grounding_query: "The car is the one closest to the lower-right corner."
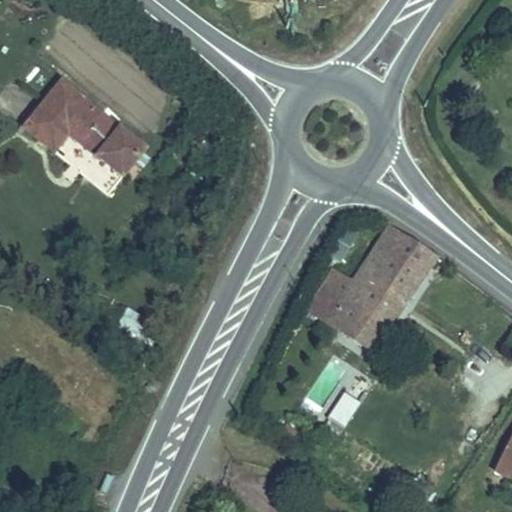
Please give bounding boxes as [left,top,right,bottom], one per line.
[466,426,478,443]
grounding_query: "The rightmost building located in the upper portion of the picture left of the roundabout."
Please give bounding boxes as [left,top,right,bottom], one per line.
[20,75,151,198]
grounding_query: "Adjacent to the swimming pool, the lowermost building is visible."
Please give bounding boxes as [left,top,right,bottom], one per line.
[329,392,361,428]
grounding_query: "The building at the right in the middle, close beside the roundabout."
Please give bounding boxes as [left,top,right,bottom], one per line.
[310,225,438,350]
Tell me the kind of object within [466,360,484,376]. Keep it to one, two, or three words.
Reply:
car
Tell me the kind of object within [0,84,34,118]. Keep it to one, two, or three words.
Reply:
shed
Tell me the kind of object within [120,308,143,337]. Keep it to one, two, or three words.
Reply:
shed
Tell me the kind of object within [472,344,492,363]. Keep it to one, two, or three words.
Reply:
car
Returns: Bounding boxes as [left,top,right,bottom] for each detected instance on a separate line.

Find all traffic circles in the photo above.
[268,61,401,206]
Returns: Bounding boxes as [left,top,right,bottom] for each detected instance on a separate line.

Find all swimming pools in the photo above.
[302,356,348,414]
